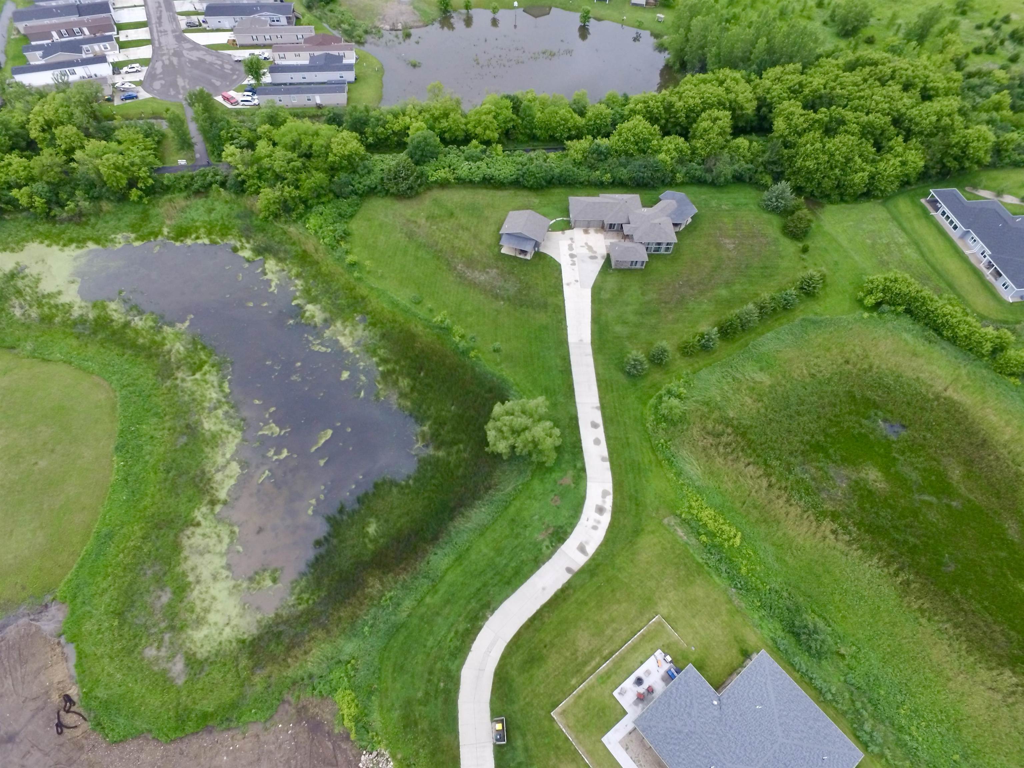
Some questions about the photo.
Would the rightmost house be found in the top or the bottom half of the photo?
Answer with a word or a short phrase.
top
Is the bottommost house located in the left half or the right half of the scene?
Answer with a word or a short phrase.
right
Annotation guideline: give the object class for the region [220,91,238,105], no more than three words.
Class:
vehicle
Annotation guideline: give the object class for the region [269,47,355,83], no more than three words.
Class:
house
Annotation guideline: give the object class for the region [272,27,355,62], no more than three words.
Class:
house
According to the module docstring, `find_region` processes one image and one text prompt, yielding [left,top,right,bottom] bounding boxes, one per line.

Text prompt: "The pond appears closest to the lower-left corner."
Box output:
[0,244,415,612]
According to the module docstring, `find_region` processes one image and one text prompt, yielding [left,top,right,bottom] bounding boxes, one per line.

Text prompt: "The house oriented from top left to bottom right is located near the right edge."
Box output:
[925,188,1024,297]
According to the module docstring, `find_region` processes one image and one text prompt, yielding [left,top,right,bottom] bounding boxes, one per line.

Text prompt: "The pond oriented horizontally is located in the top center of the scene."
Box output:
[342,8,671,117]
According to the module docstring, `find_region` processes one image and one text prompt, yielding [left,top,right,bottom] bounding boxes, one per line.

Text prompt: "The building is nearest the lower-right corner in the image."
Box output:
[633,649,864,768]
